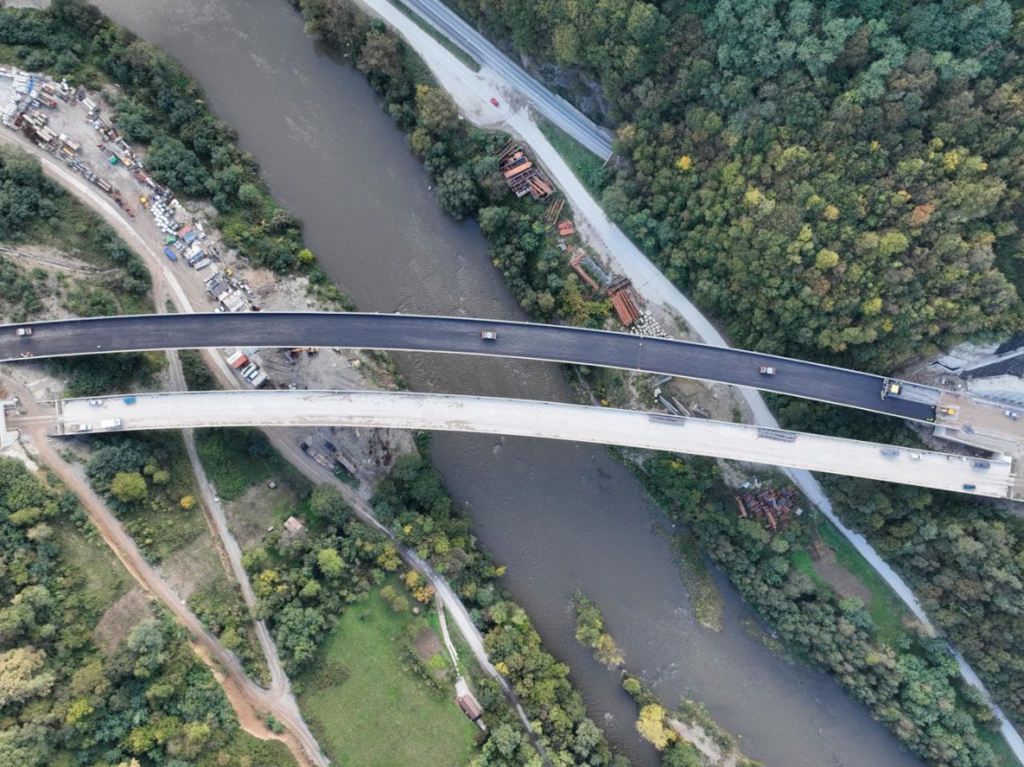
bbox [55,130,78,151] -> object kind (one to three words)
truck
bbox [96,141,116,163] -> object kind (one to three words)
vehicle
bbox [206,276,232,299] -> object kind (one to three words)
shed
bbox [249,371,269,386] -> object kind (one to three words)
vehicle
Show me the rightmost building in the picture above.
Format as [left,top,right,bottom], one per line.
[456,692,485,723]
